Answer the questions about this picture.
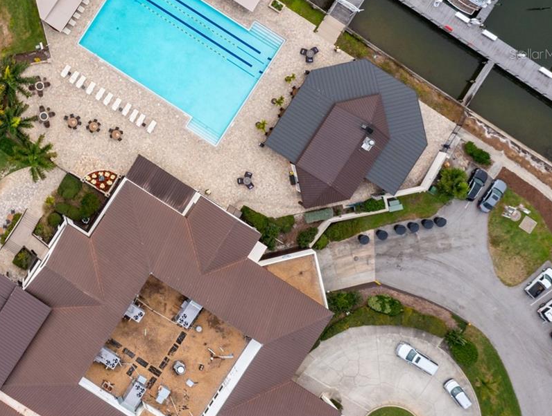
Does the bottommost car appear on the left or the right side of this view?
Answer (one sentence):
You can find the bottommost car on the right side of the picture.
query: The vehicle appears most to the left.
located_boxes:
[391,340,439,375]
